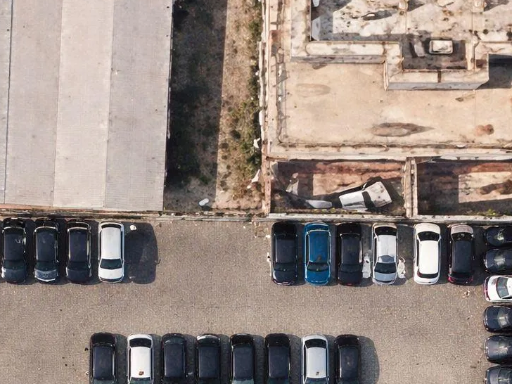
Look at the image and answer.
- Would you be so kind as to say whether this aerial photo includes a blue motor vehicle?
Yes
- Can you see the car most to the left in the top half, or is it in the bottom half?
bottom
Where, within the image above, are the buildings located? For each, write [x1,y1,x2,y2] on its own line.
[265,0,512,166]
[0,0,175,213]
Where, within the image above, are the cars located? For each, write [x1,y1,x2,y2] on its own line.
[483,225,512,247]
[32,216,59,285]
[228,332,257,384]
[481,304,512,334]
[303,223,334,288]
[95,218,126,284]
[447,224,476,287]
[413,223,443,287]
[194,331,223,384]
[482,364,512,384]
[126,331,154,384]
[64,217,93,286]
[0,215,27,285]
[482,274,512,304]
[481,333,512,365]
[334,331,363,384]
[88,332,116,384]
[371,222,400,288]
[270,220,300,288]
[264,331,292,384]
[481,245,512,276]
[301,331,330,384]
[159,331,188,384]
